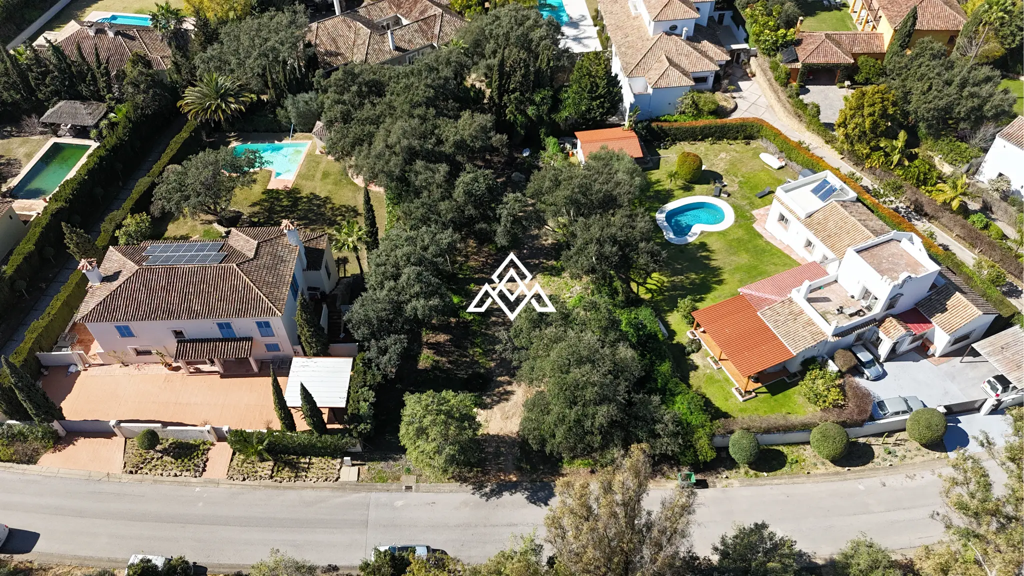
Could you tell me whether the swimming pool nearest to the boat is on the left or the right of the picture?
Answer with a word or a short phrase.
right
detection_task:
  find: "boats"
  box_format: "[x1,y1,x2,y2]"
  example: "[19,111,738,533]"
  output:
[758,150,785,168]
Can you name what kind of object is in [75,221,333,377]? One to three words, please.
house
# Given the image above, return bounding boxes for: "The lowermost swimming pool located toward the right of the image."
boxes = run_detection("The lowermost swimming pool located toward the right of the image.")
[656,195,735,244]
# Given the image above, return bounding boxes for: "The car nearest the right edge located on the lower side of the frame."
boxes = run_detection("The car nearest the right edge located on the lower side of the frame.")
[980,371,1018,400]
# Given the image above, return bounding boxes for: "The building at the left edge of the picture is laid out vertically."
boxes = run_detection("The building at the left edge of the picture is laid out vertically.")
[0,193,32,262]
